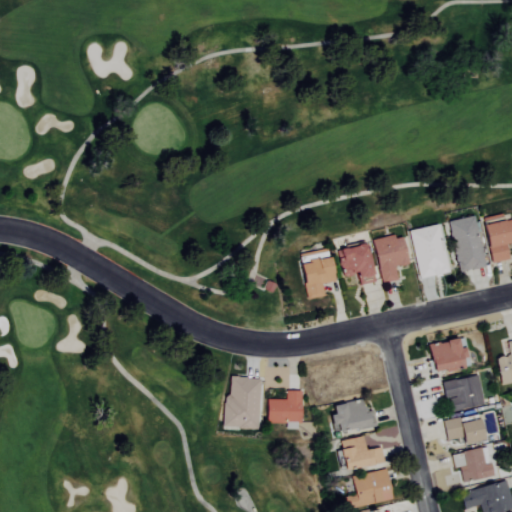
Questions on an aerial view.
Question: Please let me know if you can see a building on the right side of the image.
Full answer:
Yes, I can see a building on the right side of the image.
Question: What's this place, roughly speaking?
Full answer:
The area seen from above is a golf course.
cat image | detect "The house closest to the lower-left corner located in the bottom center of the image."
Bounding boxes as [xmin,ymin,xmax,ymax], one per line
[222,376,263,432]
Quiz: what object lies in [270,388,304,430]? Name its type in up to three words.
house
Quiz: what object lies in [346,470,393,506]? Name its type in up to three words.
house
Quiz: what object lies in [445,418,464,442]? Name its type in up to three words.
building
